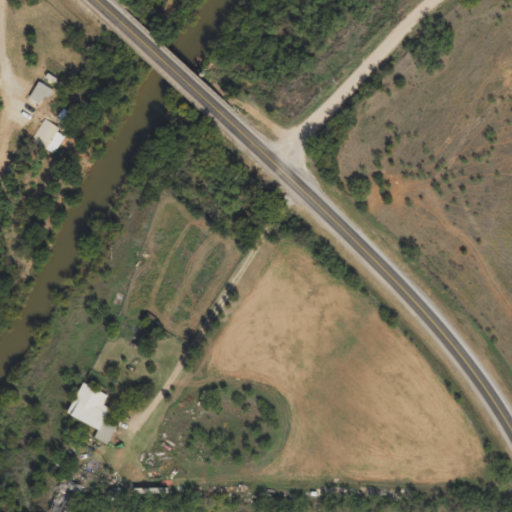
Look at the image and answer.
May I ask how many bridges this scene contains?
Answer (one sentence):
In total, there is 1 bridge in the scene.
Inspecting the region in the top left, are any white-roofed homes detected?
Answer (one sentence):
Yes, a white-roofed home shows up in the top left.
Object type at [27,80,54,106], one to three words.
house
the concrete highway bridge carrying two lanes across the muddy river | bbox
[110,10,235,127]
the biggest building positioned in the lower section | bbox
[67,382,109,430]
